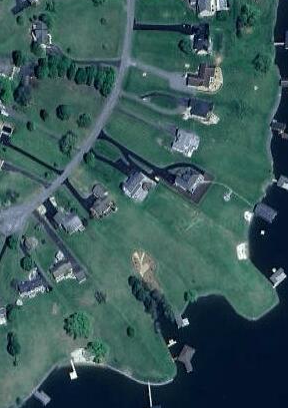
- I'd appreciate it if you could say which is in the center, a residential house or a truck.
residential house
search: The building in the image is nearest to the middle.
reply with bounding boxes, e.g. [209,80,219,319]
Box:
[122,171,154,201]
